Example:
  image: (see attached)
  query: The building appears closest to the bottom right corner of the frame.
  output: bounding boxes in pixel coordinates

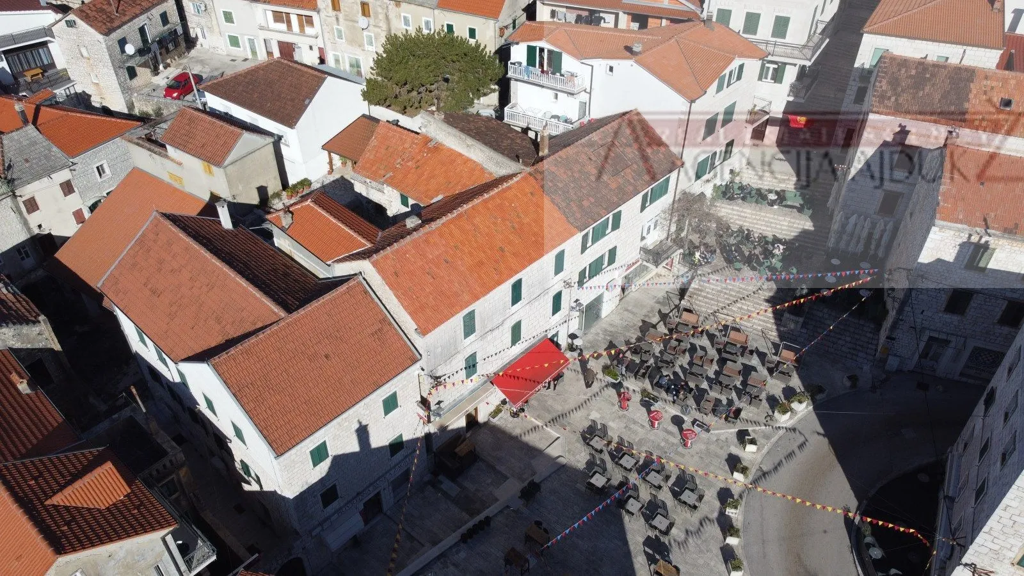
[913,337,1024,576]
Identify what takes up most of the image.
buildings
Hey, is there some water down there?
No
